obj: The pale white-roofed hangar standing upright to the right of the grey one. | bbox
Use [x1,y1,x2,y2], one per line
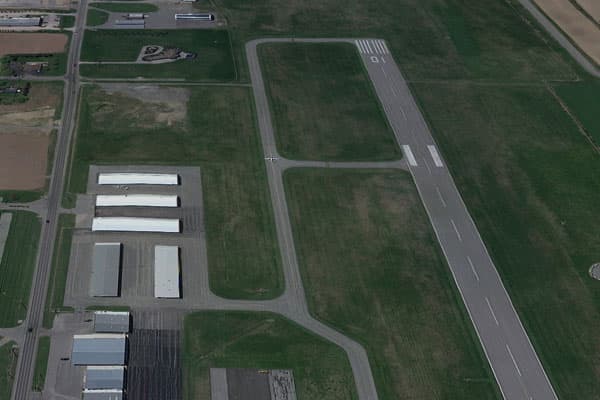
[155,246,180,299]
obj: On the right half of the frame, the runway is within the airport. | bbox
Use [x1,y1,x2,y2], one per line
[355,40,558,400]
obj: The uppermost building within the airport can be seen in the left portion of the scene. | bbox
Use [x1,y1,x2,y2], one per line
[98,173,178,186]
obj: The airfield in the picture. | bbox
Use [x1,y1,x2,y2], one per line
[64,38,558,400]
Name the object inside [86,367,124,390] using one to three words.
hangar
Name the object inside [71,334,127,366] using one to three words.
hangar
